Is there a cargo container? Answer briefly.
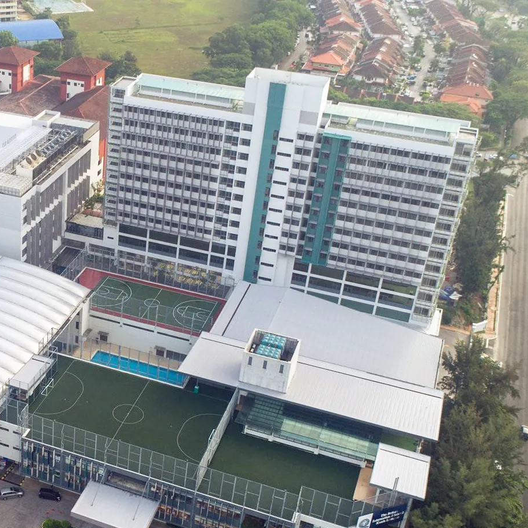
No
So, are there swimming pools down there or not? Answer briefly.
Yes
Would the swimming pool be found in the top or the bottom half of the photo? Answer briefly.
bottom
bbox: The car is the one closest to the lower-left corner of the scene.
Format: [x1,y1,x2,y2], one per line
[0,486,24,499]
